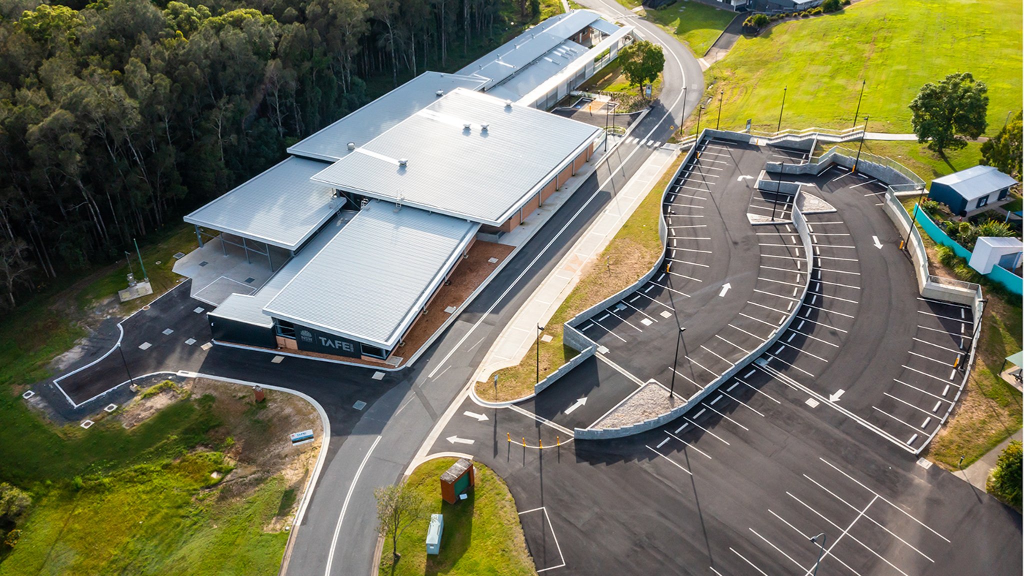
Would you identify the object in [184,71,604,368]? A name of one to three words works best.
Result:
building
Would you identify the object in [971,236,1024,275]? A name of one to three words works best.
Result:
building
